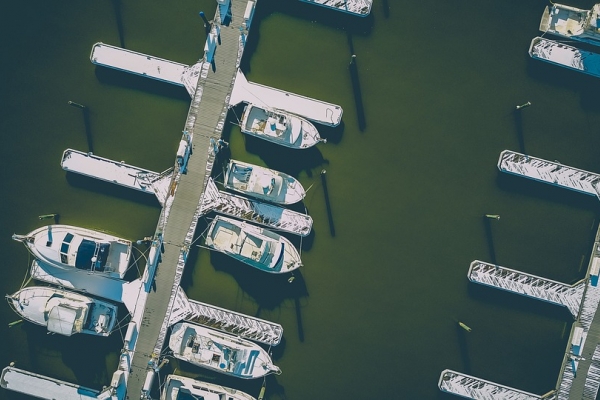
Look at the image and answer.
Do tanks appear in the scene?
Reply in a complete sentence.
No, there's no tank here.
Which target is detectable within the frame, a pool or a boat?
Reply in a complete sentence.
The one in the frame is a boat.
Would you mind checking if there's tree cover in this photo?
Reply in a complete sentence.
No, there is no tree cover in the image.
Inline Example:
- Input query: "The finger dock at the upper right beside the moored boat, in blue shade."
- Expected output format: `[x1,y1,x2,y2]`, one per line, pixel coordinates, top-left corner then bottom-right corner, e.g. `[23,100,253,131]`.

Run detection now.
[526,36,600,78]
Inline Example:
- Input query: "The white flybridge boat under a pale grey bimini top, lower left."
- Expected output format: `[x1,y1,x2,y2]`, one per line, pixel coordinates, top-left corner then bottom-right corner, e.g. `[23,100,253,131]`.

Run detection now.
[2,285,120,337]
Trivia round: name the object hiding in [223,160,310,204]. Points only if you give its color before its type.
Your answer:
white boat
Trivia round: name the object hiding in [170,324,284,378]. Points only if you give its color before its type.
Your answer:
white boat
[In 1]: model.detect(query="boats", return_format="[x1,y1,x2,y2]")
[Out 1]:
[163,369,248,400]
[199,214,305,271]
[170,324,284,378]
[11,227,135,282]
[540,0,600,49]
[223,160,310,204]
[2,285,120,337]
[240,104,327,150]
